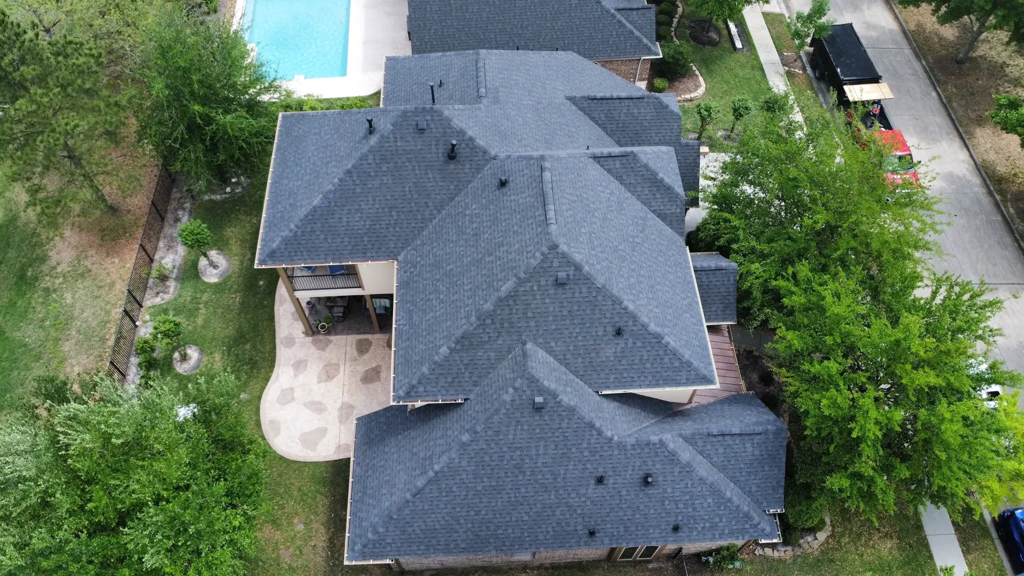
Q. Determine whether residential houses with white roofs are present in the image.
No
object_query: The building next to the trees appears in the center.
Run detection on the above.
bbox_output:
[253,50,787,571]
